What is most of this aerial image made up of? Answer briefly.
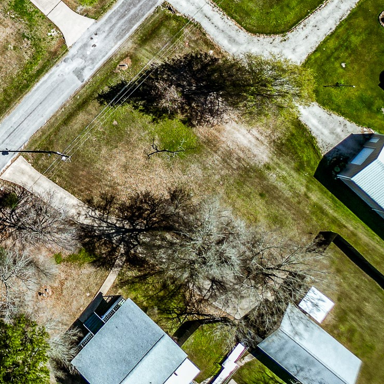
grass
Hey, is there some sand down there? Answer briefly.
No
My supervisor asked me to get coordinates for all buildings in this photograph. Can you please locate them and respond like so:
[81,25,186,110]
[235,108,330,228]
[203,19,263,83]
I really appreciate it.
[335,134,384,221]
[251,301,366,384]
[68,295,200,384]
